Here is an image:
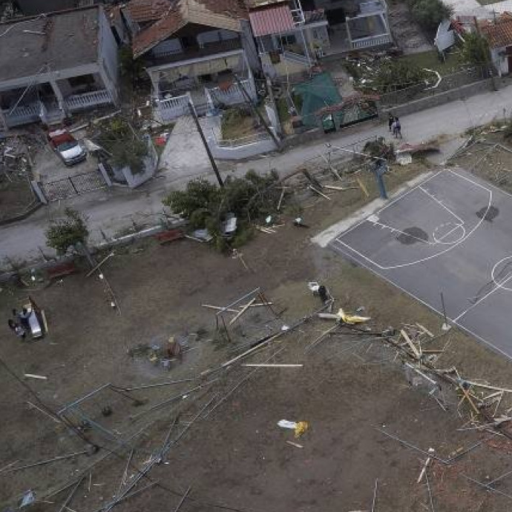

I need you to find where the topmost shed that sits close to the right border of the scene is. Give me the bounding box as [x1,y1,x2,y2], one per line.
[450,0,495,39]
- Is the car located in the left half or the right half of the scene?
left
